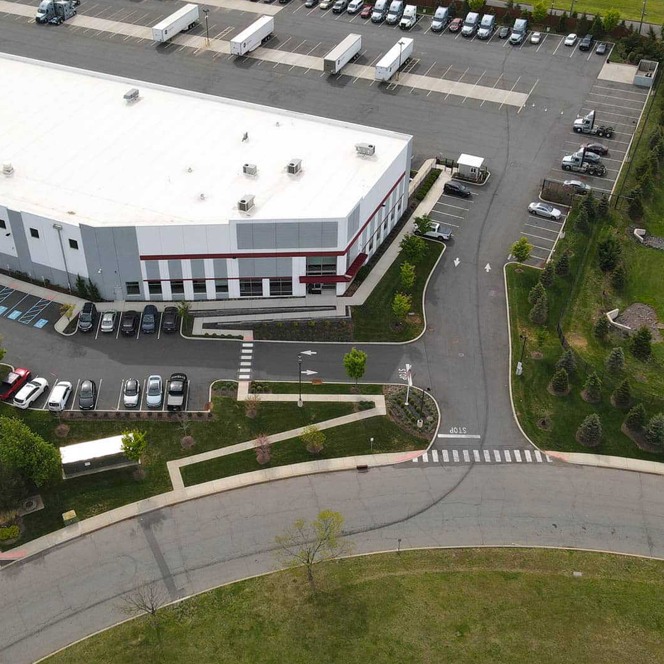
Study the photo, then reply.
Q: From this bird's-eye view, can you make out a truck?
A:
Yes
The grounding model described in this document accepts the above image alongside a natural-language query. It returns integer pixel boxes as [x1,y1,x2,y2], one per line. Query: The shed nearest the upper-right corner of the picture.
[453,154,490,185]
